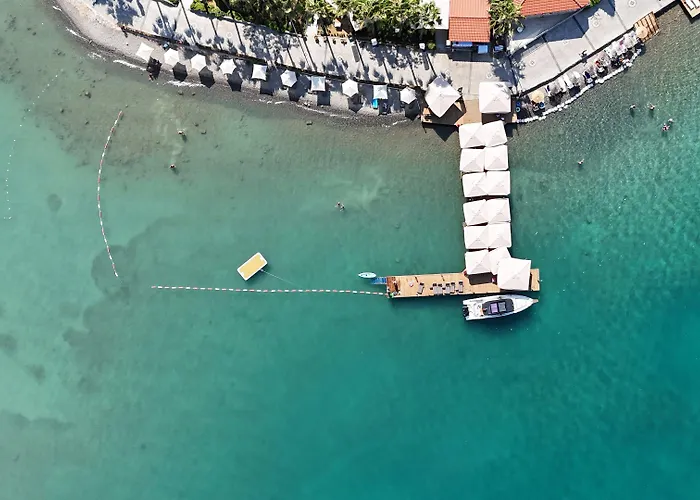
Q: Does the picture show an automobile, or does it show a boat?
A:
boat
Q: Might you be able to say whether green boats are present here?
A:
No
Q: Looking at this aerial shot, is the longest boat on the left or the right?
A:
right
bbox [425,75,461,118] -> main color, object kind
white umbrella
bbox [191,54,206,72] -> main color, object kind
white umbrella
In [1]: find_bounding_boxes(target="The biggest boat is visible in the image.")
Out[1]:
[459,290,539,319]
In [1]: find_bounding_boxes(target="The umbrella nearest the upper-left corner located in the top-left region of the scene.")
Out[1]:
[135,40,156,62]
